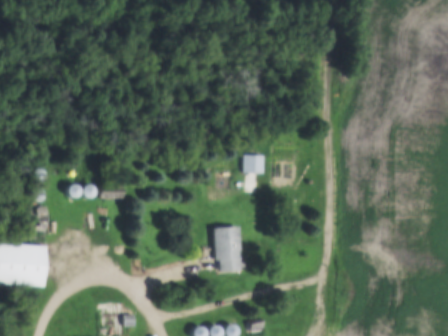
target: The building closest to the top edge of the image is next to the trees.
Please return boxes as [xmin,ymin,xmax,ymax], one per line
[244,154,264,175]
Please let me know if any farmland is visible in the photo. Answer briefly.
Yes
